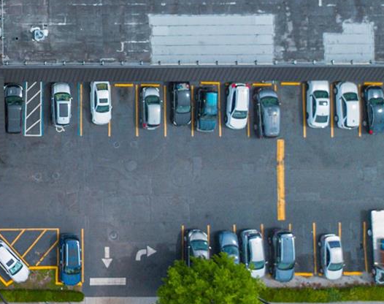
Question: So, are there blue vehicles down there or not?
Yes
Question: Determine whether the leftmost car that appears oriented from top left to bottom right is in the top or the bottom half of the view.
bottom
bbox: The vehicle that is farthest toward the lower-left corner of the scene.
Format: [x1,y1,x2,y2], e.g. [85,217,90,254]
[0,239,32,285]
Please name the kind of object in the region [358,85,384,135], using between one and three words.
car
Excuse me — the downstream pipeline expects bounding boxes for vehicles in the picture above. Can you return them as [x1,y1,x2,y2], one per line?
[366,205,384,281]
[193,87,219,133]
[314,232,343,279]
[252,87,281,139]
[212,227,239,269]
[223,83,251,129]
[267,230,296,281]
[0,239,32,285]
[237,229,265,278]
[302,83,330,128]
[358,85,384,135]
[48,83,74,131]
[168,83,194,126]
[330,83,360,129]
[182,226,210,275]
[88,83,114,126]
[3,83,26,135]
[57,233,83,283]
[138,86,163,130]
